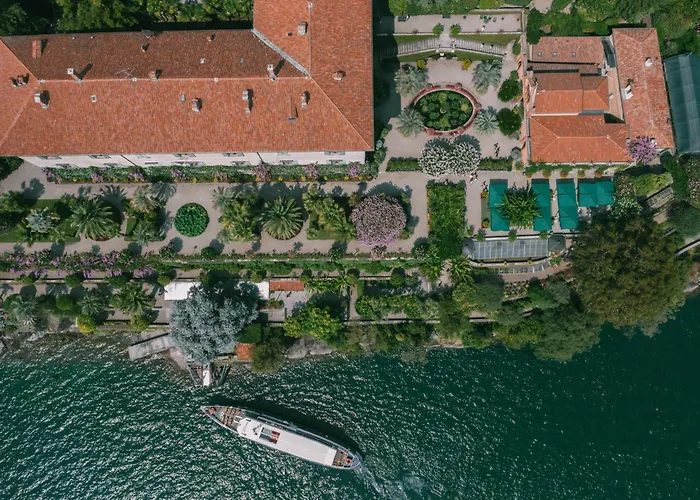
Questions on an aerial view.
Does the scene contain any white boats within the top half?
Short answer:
No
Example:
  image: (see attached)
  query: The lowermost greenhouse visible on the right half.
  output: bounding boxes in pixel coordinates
[468,239,550,263]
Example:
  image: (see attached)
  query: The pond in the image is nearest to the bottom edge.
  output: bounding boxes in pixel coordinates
[415,84,479,135]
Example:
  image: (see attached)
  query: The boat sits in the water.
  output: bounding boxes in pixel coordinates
[199,405,364,475]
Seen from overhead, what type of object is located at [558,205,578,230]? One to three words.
umbrella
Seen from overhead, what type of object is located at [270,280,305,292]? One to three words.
shed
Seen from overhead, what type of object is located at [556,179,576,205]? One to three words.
umbrella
